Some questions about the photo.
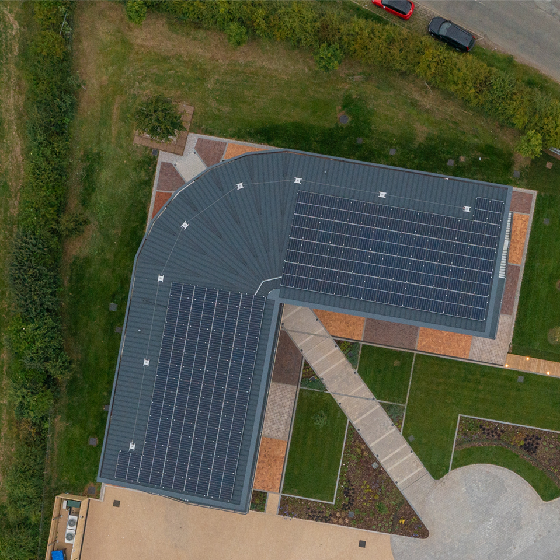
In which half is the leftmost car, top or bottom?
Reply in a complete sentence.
You can find the leftmost car in the top half.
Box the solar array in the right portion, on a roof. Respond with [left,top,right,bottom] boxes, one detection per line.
[281,190,503,319]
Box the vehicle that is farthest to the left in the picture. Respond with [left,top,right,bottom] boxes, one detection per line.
[371,0,419,25]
